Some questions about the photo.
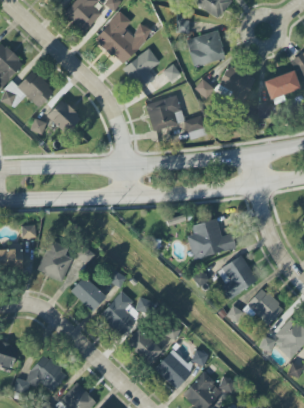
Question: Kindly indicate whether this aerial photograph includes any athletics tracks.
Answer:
No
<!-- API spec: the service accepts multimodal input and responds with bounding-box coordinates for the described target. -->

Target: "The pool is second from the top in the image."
[172,239,188,262]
